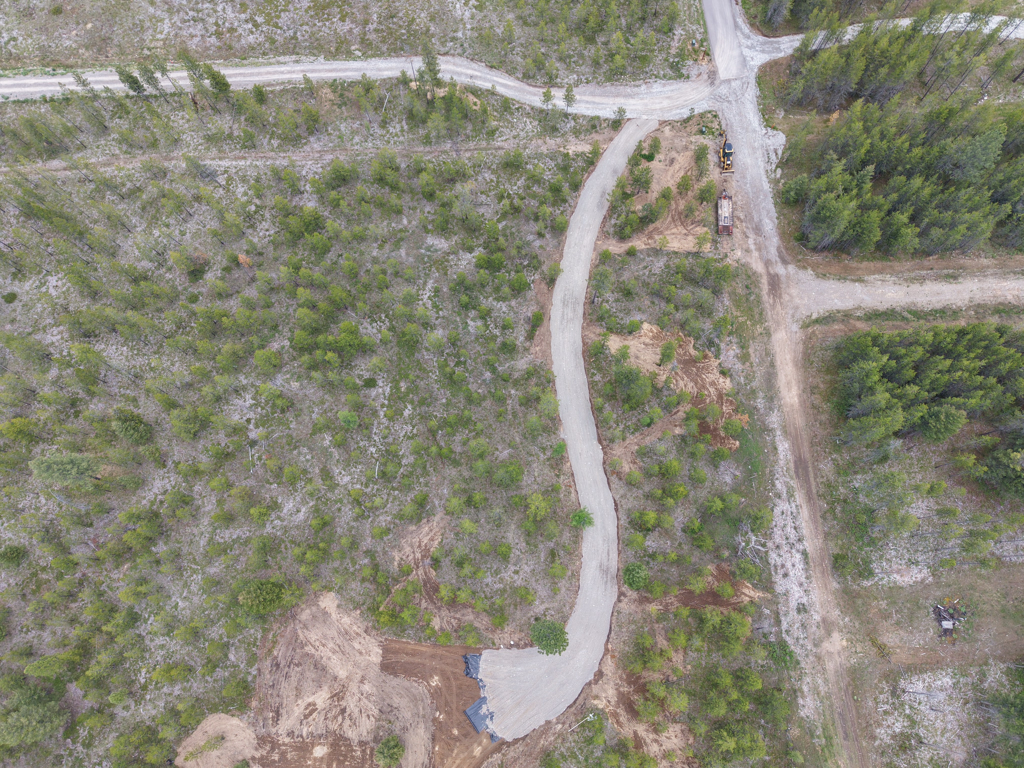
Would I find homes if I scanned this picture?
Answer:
No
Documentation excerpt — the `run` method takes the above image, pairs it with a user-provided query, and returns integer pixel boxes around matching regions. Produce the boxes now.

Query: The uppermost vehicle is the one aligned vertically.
[717,130,736,179]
